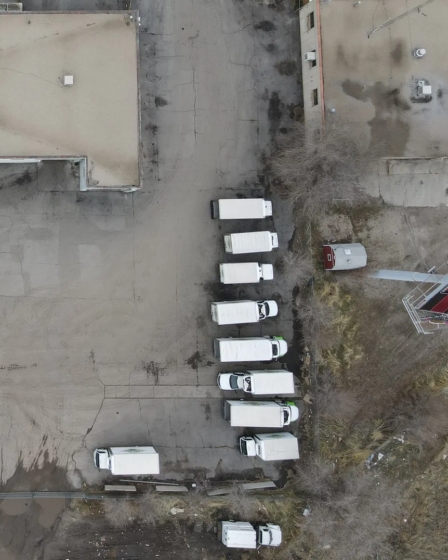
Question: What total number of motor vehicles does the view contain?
10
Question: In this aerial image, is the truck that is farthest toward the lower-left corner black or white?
white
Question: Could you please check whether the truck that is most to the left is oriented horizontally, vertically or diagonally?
horizontally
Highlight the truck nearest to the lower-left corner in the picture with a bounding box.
[88,443,160,476]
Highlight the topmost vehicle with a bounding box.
[203,198,270,221]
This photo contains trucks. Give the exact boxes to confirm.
[232,431,299,461]
[208,334,285,362]
[222,229,276,253]
[88,443,160,476]
[215,260,268,284]
[218,398,295,427]
[207,367,295,396]
[204,518,279,548]
[203,198,270,221]
[209,298,272,324]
